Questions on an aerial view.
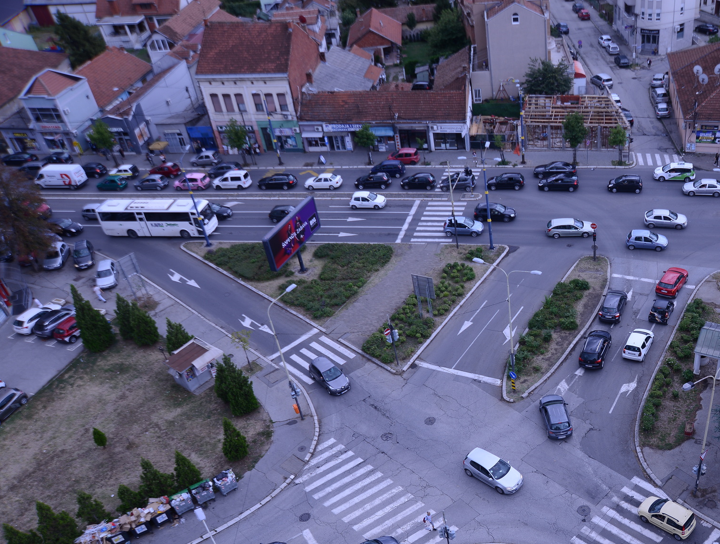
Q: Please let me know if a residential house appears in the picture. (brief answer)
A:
Yes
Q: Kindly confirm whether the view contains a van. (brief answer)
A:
Yes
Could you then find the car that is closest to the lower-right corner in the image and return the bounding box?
[637,498,698,541]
